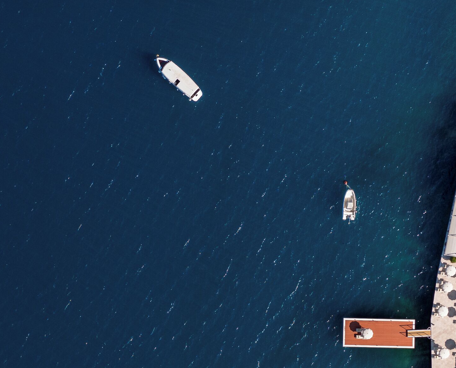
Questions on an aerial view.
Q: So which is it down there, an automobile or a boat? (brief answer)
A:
boat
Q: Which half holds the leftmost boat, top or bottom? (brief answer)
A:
top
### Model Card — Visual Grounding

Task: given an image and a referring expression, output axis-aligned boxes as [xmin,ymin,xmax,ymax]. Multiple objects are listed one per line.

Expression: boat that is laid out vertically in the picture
[343,189,356,221]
